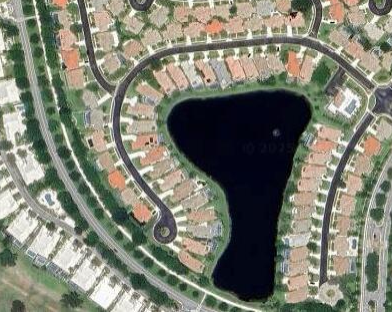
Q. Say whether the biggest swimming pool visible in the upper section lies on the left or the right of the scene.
right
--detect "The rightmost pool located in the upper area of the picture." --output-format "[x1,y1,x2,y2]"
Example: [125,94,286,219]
[331,88,364,118]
